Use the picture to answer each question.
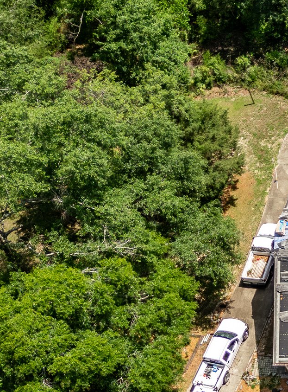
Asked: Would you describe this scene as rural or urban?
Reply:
rural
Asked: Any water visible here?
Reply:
No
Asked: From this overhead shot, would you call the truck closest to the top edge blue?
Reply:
No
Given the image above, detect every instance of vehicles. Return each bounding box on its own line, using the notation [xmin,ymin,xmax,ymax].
[242,225,277,290]
[191,316,244,392]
